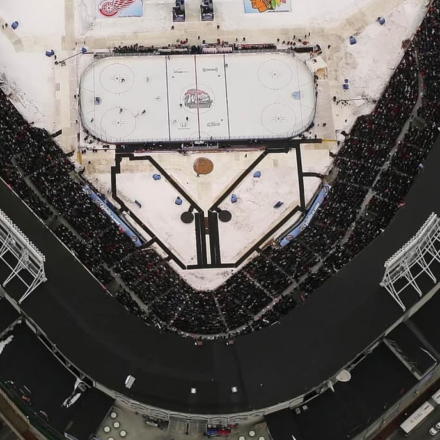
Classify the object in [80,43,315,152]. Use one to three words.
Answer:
sports court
